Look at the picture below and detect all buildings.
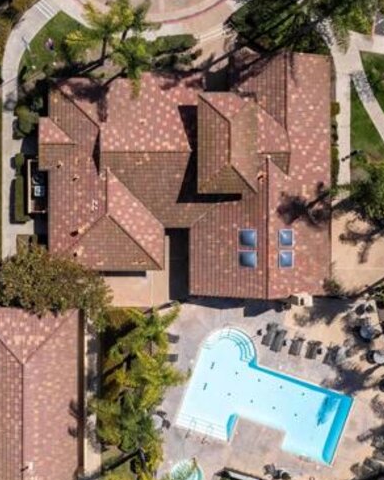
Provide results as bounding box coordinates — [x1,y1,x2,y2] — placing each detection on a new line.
[0,306,82,480]
[39,45,331,307]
